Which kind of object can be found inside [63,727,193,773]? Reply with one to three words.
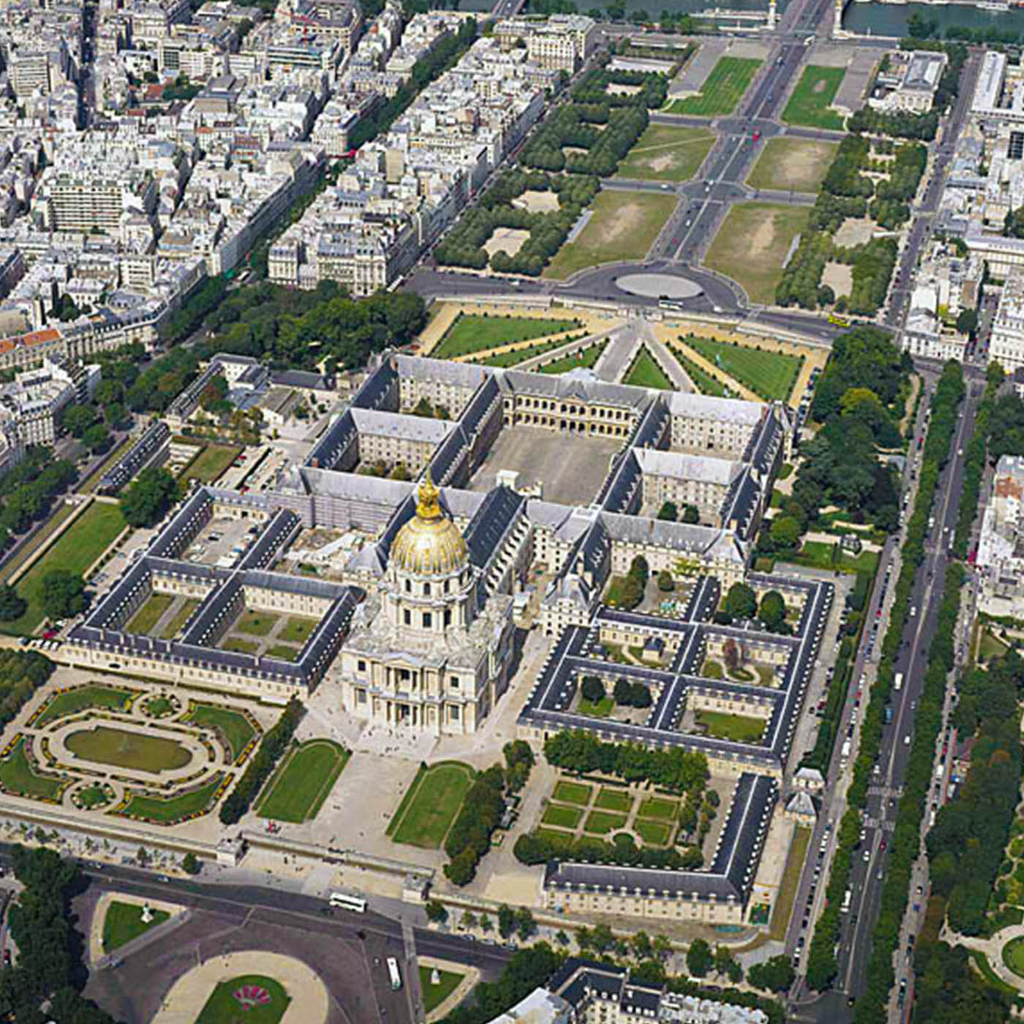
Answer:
pond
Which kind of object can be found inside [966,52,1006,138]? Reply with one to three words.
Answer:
house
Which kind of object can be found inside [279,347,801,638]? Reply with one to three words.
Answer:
building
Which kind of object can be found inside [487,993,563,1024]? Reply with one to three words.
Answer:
house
